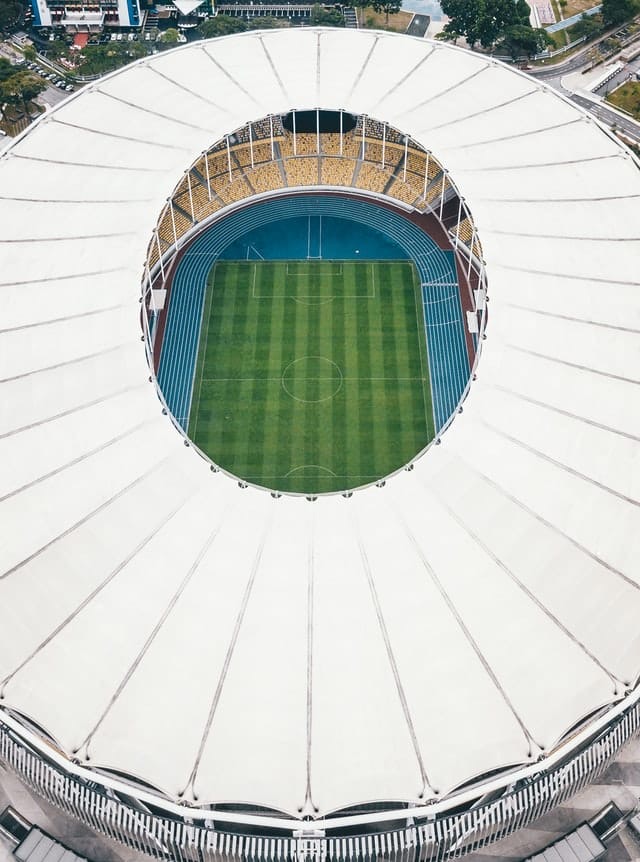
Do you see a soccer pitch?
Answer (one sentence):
Yes, a soccer pitch appears in the view.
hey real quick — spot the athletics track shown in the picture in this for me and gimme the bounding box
[142,195,485,449]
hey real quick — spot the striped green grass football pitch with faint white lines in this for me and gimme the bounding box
[186,257,437,504]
